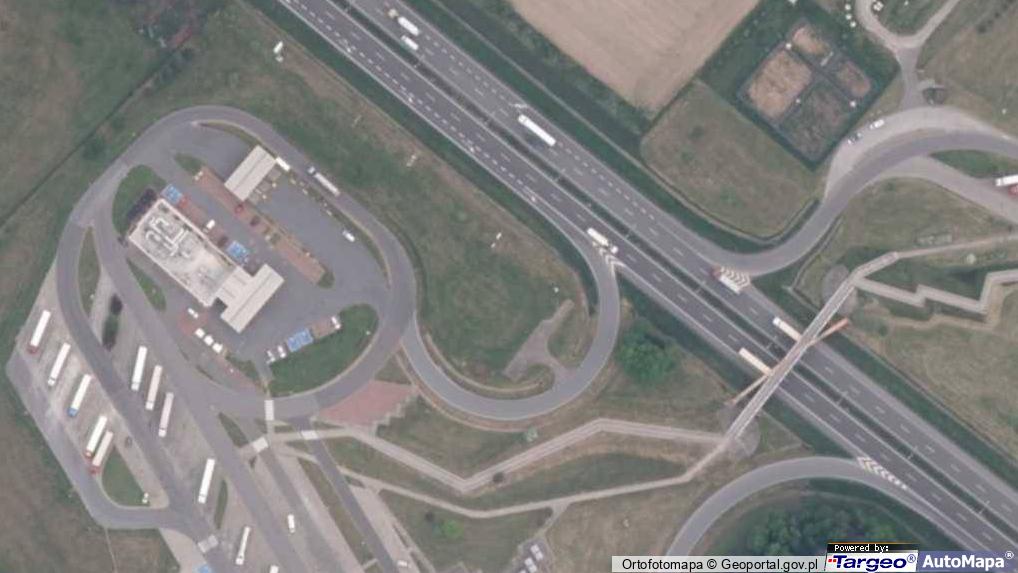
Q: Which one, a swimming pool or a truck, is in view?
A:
truck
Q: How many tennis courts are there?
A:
none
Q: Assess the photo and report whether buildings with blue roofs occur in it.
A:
No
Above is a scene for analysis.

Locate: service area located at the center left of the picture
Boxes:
[5,103,419,573]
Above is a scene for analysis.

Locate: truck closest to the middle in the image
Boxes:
[587,227,620,256]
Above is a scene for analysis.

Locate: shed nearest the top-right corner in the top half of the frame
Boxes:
[924,86,948,103]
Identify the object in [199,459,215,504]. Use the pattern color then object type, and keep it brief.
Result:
white vehicle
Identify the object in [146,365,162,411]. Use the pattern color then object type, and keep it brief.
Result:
white vehicle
